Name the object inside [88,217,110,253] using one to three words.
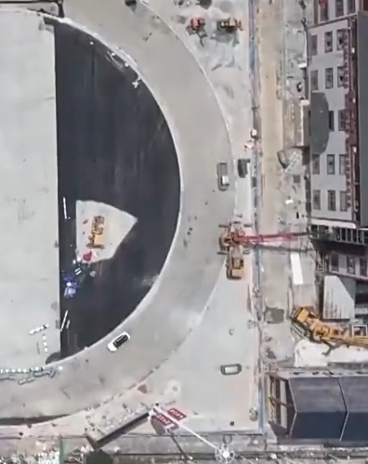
work vehicle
